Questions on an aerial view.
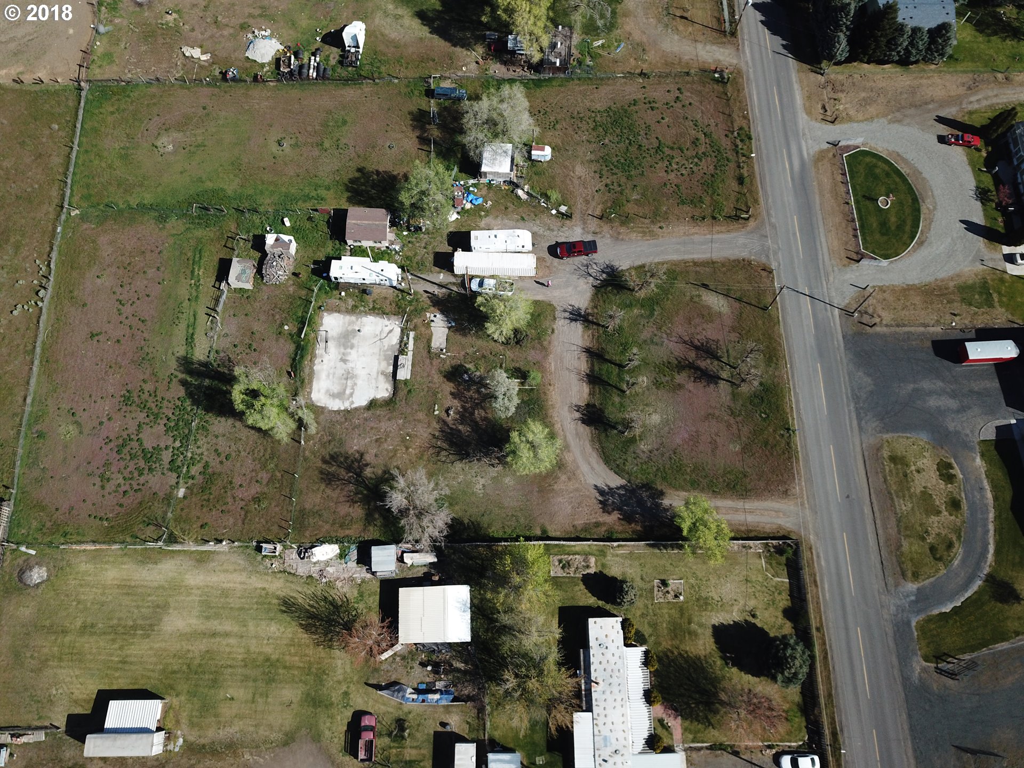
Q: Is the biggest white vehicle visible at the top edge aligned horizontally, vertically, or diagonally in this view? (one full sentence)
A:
In this picture, the biggest white vehicle visible at the top edge is oriented vertically.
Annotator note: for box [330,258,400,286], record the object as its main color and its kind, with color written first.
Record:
white trailer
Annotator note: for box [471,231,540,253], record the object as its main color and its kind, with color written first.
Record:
white trailer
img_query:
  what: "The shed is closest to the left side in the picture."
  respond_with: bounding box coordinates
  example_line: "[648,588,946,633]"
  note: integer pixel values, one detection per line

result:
[104,700,168,732]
